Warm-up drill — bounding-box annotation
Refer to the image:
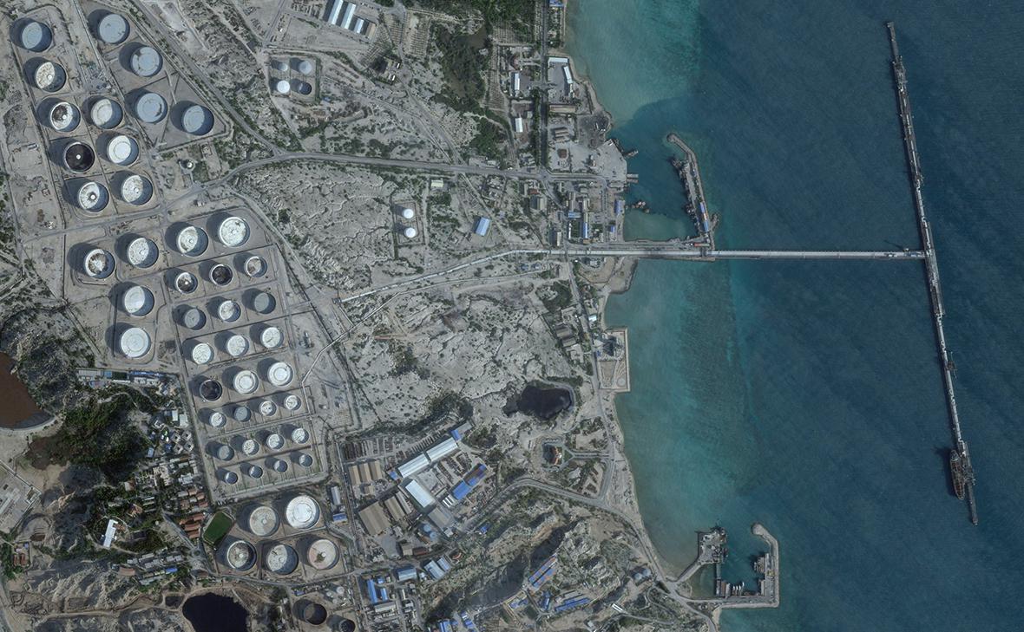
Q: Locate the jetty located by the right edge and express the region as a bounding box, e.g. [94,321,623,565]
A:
[886,23,977,527]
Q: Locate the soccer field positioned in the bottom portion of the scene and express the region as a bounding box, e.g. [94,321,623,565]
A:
[201,509,235,547]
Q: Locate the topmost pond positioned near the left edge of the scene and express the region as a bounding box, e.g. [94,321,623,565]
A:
[0,349,53,429]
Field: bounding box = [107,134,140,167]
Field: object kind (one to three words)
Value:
storage tank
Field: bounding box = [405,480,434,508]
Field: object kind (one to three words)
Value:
building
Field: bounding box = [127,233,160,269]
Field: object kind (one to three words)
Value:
storage tank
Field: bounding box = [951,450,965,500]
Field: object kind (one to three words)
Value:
ship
